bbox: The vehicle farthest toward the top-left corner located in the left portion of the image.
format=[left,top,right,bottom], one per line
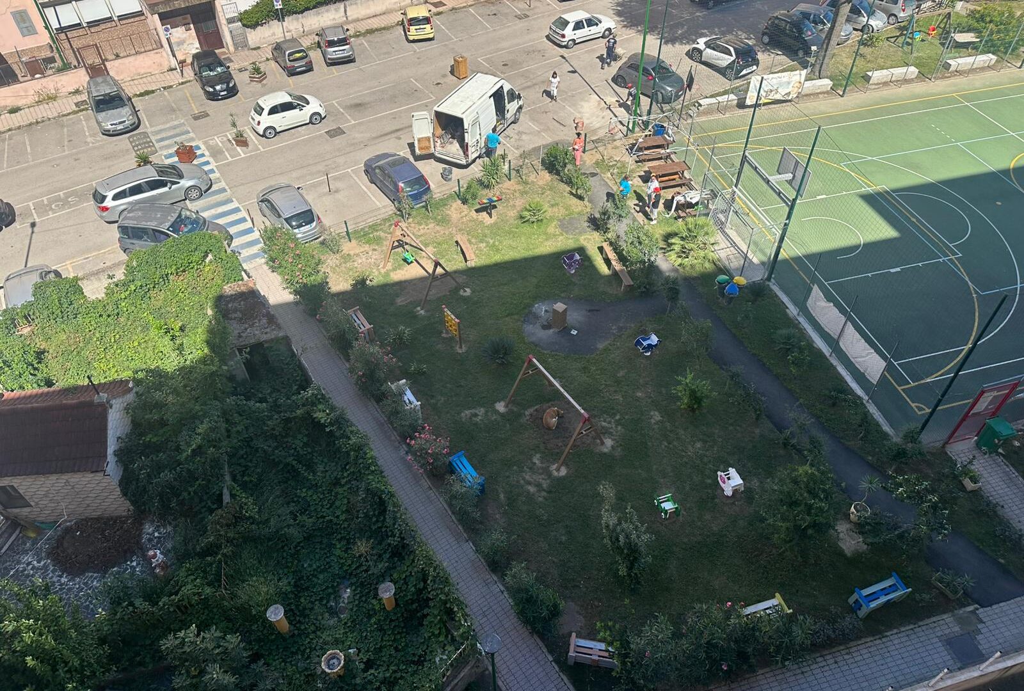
[86,71,138,135]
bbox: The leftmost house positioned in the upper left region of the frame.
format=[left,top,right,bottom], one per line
[0,0,158,87]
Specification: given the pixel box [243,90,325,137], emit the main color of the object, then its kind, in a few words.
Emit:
white car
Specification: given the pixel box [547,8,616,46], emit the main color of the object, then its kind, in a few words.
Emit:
white car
